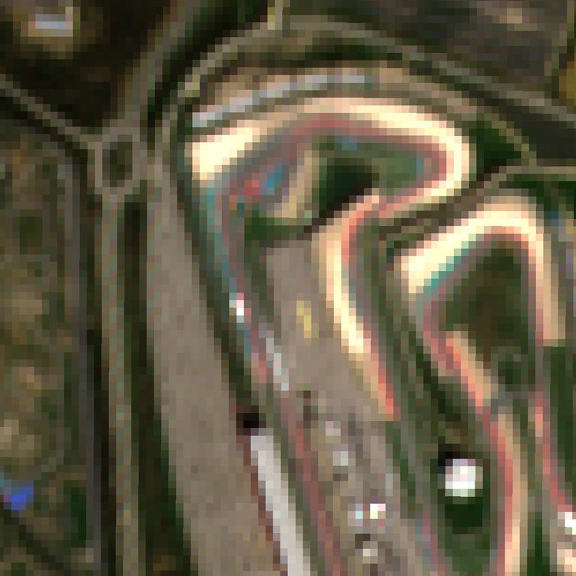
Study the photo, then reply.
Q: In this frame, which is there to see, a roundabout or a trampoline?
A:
roundabout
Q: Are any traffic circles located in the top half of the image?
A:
Yes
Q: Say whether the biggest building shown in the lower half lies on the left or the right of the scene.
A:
right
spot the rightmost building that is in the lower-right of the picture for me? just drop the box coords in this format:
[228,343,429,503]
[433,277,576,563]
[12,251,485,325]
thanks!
[445,458,478,499]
